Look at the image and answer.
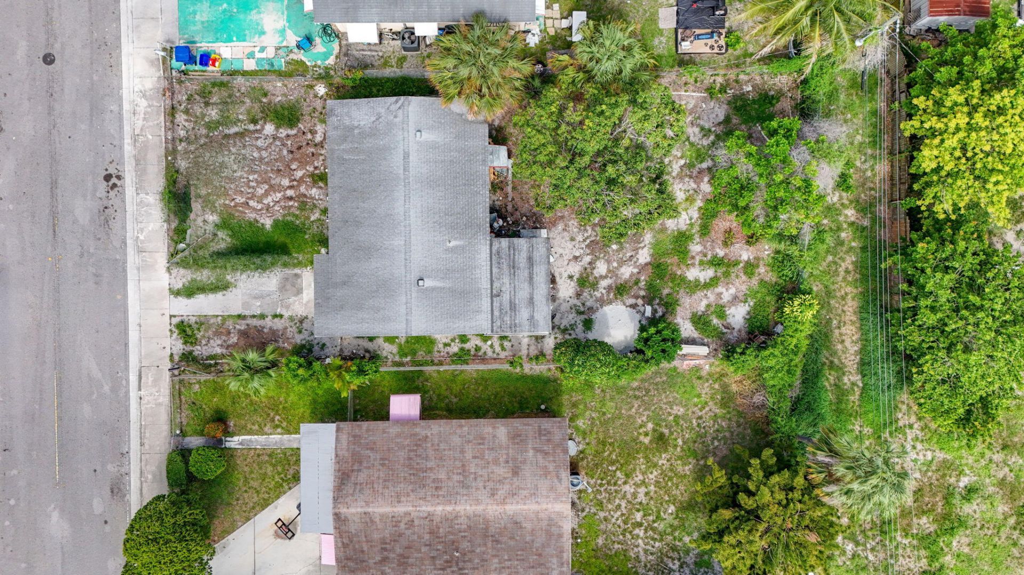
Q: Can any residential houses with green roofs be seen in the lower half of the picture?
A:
No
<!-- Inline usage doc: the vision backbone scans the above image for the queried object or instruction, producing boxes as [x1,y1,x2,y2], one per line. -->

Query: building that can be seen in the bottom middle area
[299,394,573,575]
